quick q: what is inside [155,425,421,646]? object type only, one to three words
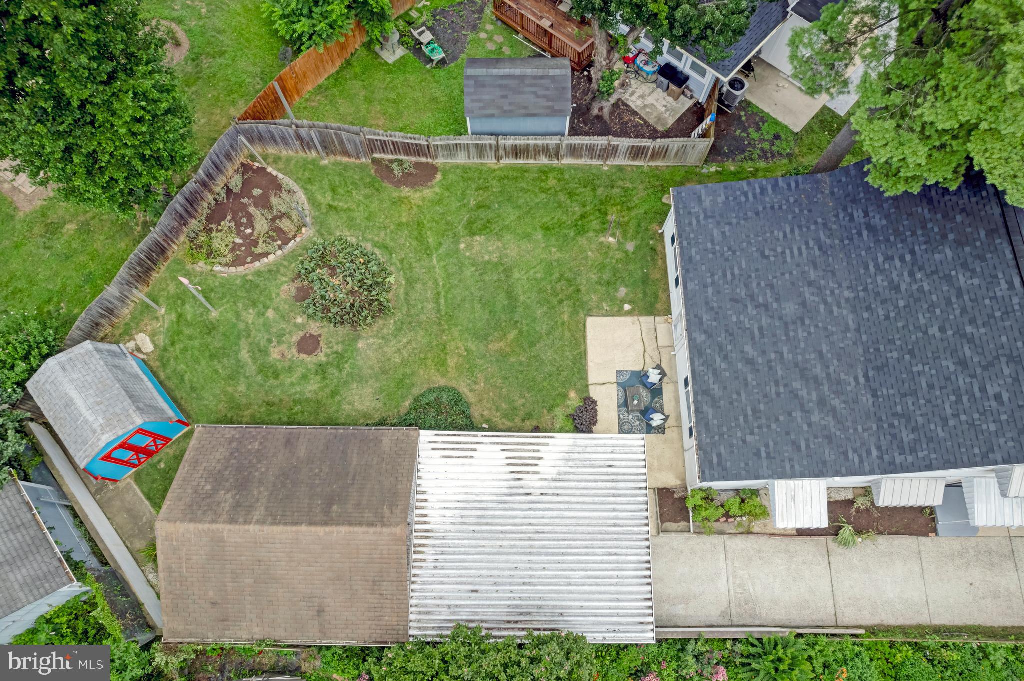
building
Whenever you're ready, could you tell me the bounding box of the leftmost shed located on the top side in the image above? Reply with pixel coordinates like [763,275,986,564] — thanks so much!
[463,58,574,146]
